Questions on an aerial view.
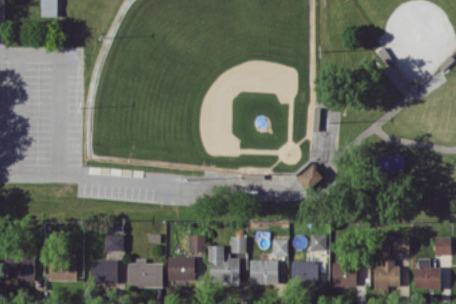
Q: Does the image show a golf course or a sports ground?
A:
sports ground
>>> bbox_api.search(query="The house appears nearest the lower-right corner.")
[415,268,441,291]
